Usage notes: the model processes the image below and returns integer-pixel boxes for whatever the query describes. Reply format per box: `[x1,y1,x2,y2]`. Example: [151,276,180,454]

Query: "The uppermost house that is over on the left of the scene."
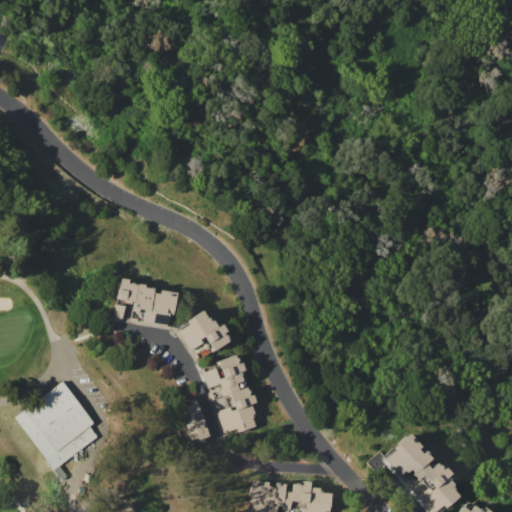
[116,278,179,324]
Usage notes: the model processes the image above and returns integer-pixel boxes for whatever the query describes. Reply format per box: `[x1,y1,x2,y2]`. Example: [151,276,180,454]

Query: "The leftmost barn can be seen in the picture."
[16,384,98,480]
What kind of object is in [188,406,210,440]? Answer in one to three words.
house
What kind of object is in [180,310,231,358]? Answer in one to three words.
house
